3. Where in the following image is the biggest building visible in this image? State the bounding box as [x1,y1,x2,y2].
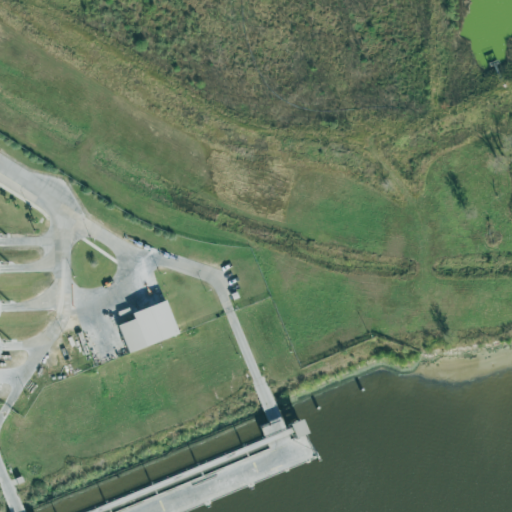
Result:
[119,300,180,353]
